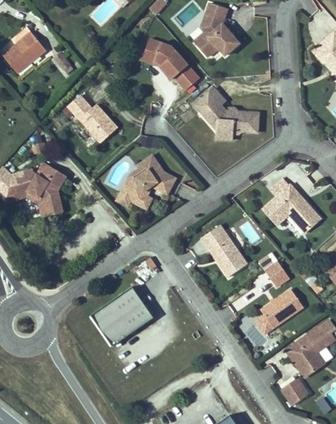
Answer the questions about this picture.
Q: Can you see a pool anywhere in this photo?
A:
Yes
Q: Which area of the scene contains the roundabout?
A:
bottom left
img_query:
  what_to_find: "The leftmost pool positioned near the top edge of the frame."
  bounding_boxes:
[89,0,128,26]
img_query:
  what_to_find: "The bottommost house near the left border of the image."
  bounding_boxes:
[0,163,66,217]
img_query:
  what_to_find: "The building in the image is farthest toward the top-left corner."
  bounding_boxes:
[1,26,46,76]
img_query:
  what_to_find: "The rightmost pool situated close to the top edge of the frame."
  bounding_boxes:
[170,0,204,37]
